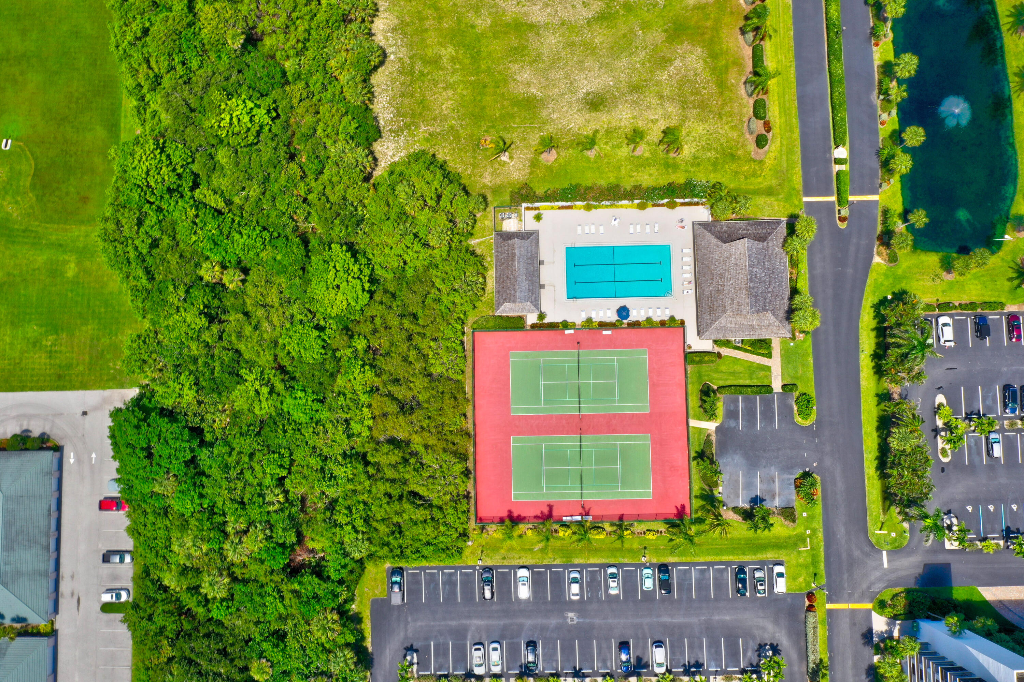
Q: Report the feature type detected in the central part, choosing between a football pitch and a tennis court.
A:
tennis court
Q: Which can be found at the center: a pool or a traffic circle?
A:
pool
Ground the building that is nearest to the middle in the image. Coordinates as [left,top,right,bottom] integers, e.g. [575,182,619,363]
[493,230,540,315]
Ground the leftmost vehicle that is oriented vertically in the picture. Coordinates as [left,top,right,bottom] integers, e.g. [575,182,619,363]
[390,569,404,605]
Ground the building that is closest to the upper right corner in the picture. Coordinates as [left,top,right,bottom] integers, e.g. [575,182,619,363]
[694,220,791,339]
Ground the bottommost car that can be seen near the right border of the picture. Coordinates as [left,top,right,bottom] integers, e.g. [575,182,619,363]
[985,432,1001,458]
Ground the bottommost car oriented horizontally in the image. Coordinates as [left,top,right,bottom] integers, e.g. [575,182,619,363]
[101,589,131,604]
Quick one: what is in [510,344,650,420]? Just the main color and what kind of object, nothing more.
green tennis court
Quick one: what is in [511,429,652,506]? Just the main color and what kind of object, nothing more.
green tennis court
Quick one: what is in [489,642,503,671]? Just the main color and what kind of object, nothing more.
white car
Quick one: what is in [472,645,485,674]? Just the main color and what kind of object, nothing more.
white vehicle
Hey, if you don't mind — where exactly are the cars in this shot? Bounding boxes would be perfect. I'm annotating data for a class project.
[568,571,582,600]
[525,642,539,673]
[918,319,933,340]
[1019,384,1024,412]
[973,315,990,340]
[734,566,748,596]
[1007,314,1022,342]
[1001,385,1018,413]
[472,645,485,674]
[658,564,671,595]
[481,569,494,600]
[489,642,503,671]
[772,564,787,593]
[99,499,130,512]
[936,316,953,344]
[107,479,136,491]
[985,432,1001,458]
[606,566,620,594]
[101,589,131,604]
[752,569,766,596]
[642,568,654,591]
[652,641,666,673]
[517,567,530,599]
[618,642,632,672]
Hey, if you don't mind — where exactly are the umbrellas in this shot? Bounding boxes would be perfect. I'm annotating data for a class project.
[617,306,631,320]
